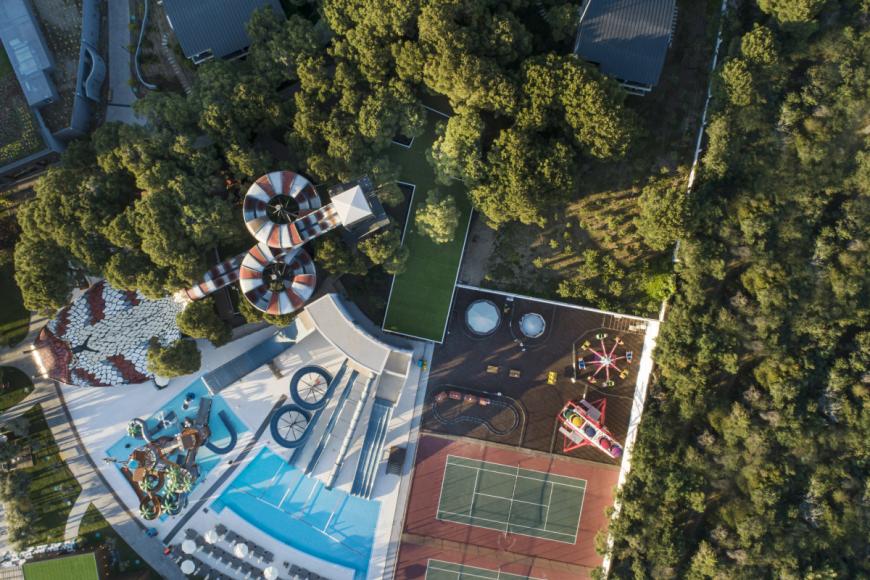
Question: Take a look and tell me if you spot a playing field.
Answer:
Yes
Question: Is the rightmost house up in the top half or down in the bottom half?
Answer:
top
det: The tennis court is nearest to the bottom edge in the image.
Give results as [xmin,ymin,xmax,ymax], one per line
[396,538,595,580]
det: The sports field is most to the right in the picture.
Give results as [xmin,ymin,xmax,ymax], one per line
[381,107,477,342]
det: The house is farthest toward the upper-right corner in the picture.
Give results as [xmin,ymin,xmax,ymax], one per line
[574,0,679,96]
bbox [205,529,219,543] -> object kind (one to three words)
umbrella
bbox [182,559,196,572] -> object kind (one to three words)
umbrella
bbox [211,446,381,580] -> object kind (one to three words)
swimming pool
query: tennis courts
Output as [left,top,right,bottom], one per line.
[403,435,616,564]
[396,538,595,580]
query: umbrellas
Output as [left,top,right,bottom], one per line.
[264,565,279,579]
[182,559,196,572]
[183,538,197,553]
[234,542,249,556]
[205,529,219,543]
